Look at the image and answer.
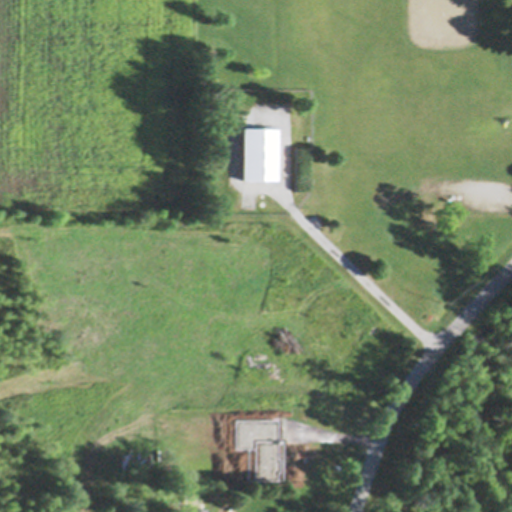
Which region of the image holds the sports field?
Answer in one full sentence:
The sports field appears toward the top right of the photo.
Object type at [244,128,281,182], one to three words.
barn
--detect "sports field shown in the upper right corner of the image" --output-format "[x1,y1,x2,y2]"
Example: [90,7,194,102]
[410,0,484,48]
